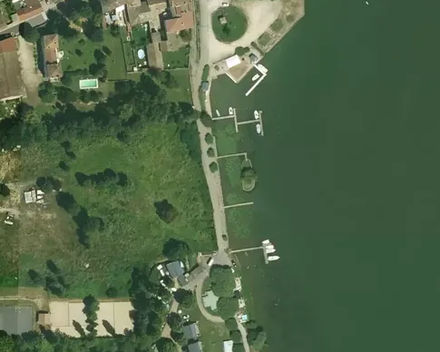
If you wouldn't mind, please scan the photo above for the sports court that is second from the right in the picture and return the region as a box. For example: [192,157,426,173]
[89,303,114,337]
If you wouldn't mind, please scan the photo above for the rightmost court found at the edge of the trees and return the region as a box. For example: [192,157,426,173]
[114,302,133,338]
